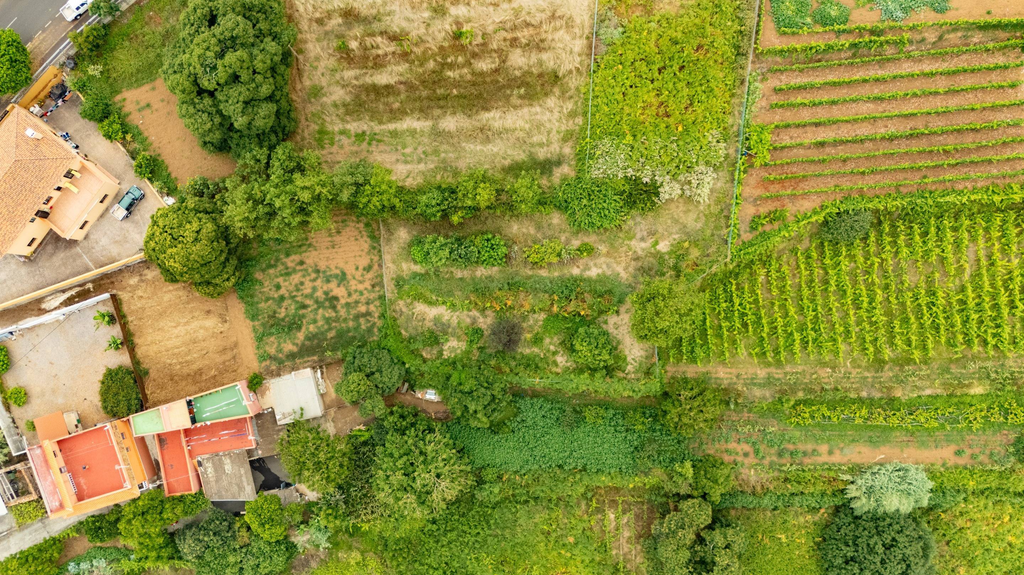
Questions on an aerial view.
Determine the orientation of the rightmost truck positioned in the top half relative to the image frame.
at an angle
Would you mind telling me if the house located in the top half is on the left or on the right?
left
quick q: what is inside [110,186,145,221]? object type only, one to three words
truck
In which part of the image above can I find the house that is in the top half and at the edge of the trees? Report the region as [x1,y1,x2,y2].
[0,106,125,259]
